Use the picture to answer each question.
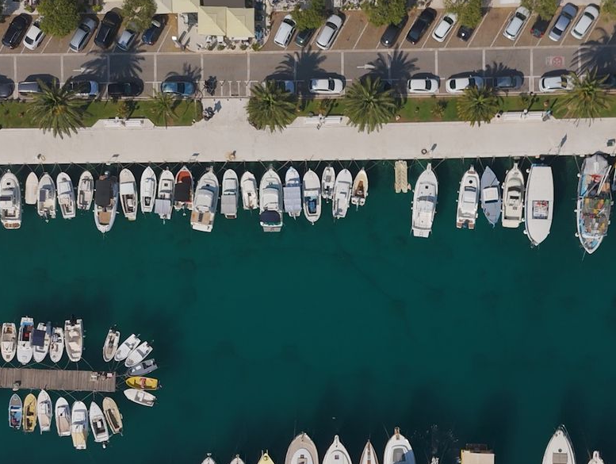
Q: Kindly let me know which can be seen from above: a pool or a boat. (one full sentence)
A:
Looking from above, you can make out a boat.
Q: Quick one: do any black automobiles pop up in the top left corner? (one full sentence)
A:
Yes, you'll find a black automobile in the top left corner.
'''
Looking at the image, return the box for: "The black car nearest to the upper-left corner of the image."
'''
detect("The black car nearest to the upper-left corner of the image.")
[4,12,34,54]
